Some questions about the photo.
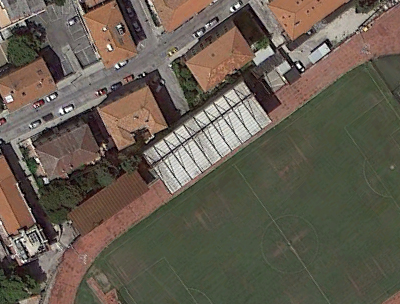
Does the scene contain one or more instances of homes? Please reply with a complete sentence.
Yes, the picture does show a home.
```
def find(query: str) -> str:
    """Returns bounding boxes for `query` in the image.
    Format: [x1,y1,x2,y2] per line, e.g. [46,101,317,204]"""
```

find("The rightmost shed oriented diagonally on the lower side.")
[68,170,149,235]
